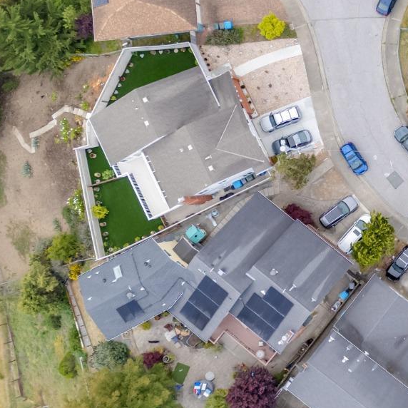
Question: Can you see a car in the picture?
Yes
